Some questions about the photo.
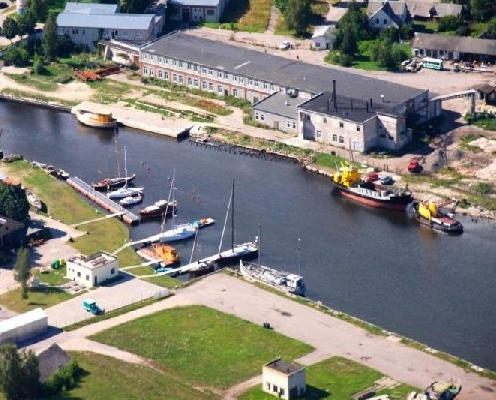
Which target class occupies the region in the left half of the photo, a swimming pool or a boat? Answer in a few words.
boat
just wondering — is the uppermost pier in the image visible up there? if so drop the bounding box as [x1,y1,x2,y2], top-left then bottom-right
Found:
[72,100,192,141]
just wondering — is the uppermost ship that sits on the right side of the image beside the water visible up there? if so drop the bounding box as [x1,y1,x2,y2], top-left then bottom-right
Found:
[337,160,414,211]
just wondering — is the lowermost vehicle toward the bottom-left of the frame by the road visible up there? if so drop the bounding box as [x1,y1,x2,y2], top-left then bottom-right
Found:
[82,293,103,312]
